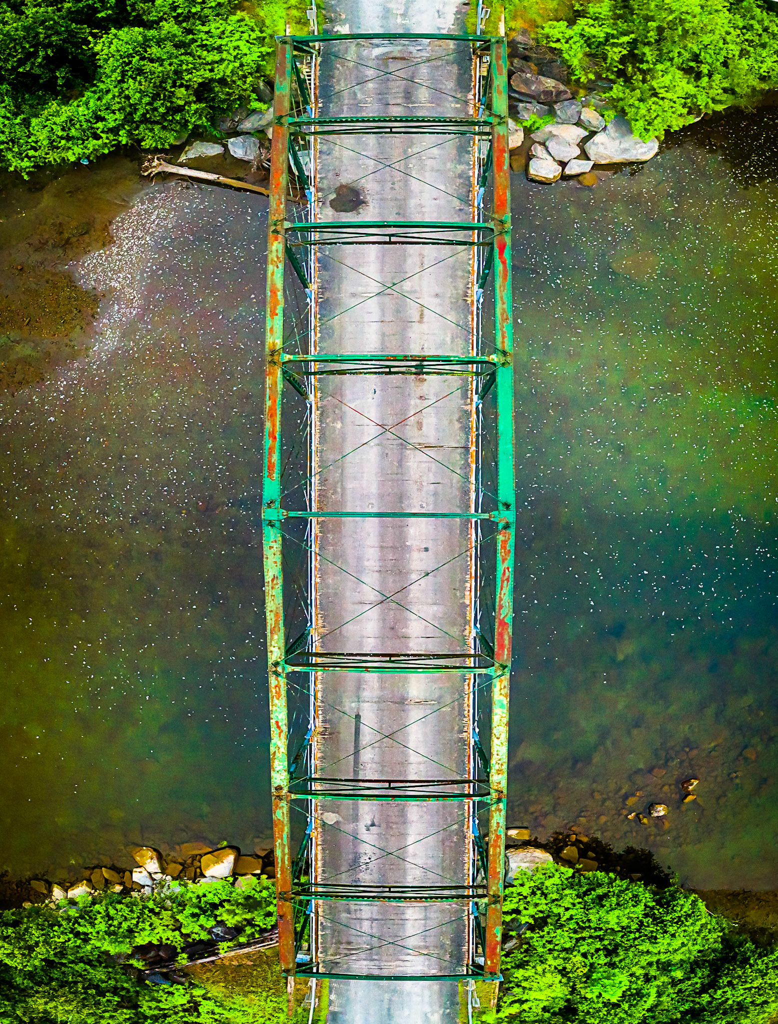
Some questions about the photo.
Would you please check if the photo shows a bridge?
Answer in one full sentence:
Yes, there's a bridge down there.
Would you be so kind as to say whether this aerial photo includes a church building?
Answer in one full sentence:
No, the picture doesn't show any church building.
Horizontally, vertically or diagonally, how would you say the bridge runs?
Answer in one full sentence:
From this overhead view, the bridge appears to run vertically.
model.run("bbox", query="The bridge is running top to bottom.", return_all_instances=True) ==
[262,31,517,983]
